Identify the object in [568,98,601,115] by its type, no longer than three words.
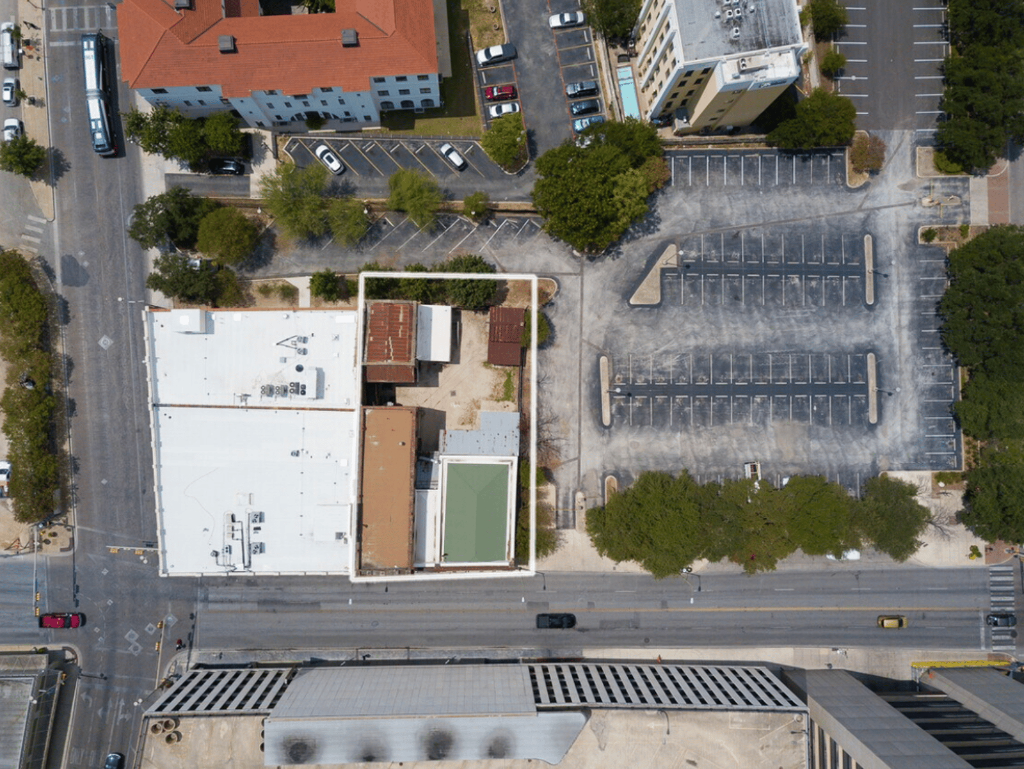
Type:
car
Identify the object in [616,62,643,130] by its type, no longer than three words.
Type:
swimming pool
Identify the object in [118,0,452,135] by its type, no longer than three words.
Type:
building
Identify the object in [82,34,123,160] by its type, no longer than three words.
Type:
bus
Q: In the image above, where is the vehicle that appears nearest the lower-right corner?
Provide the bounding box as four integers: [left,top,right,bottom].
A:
[985,613,1015,629]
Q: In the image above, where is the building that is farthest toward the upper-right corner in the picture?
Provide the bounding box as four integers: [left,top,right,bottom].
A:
[632,0,809,134]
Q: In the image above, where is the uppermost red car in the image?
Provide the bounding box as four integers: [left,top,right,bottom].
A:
[485,84,517,102]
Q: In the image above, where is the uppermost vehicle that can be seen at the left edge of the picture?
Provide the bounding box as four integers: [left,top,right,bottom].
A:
[0,24,25,74]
